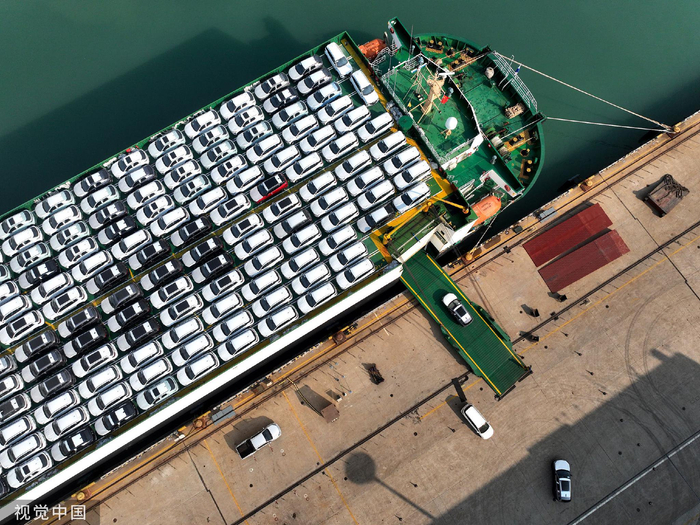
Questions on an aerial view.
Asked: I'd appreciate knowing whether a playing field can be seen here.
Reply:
No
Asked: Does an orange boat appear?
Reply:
Yes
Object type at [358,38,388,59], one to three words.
boat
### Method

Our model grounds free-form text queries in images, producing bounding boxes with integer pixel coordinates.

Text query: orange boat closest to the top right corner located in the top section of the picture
[468,195,501,222]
